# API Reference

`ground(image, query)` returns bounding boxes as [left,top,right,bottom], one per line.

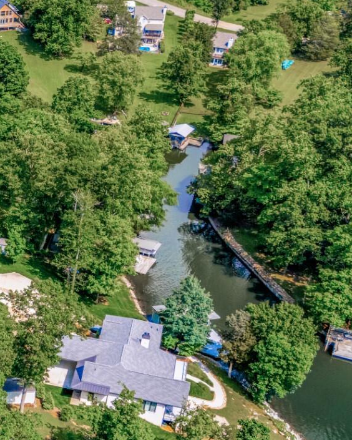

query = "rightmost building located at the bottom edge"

[57,311,187,428]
